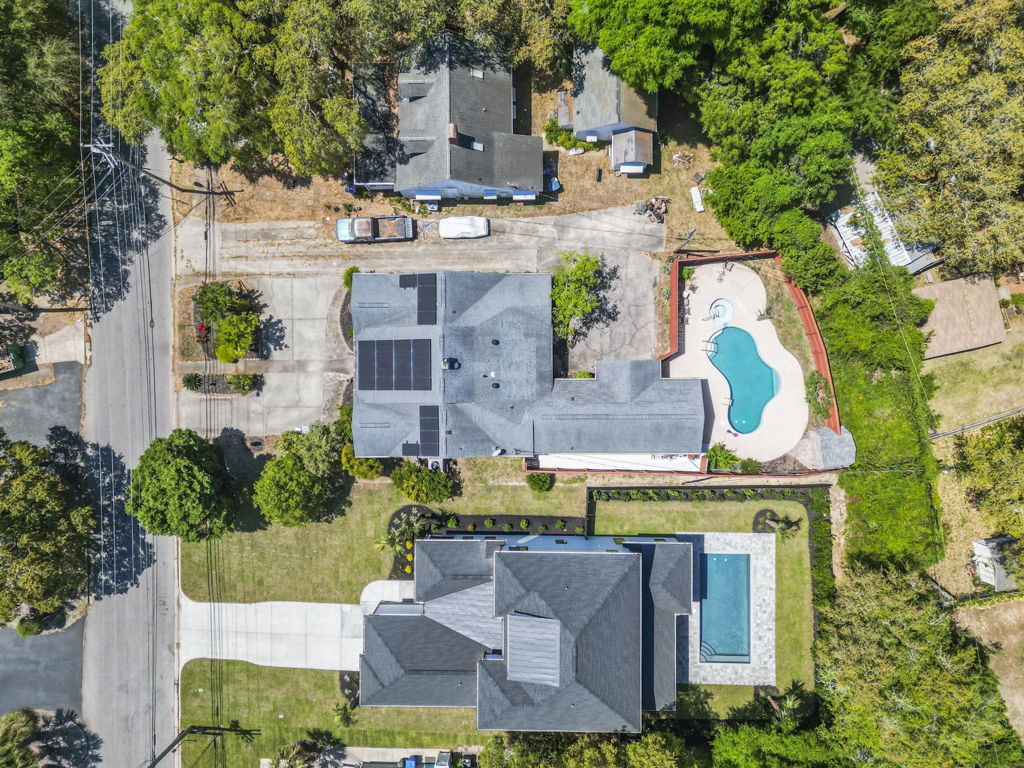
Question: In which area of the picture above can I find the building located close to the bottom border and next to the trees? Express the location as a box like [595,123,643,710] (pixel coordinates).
[359,536,694,734]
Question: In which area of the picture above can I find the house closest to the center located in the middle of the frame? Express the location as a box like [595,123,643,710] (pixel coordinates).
[351,271,704,459]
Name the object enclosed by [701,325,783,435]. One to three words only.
swimming pool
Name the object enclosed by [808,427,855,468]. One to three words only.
shed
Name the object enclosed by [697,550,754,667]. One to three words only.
swimming pool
